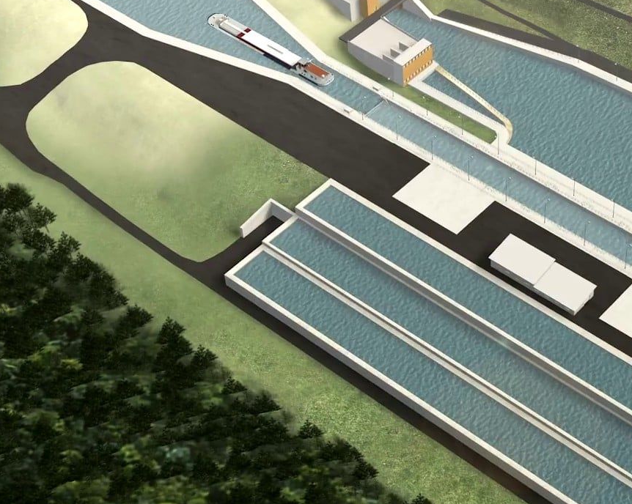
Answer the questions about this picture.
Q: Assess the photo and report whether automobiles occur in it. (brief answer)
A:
No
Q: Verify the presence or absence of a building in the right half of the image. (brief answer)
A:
Yes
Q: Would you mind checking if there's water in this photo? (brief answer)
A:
Yes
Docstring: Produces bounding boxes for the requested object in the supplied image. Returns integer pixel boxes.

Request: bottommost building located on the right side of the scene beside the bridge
[352,18,434,87]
